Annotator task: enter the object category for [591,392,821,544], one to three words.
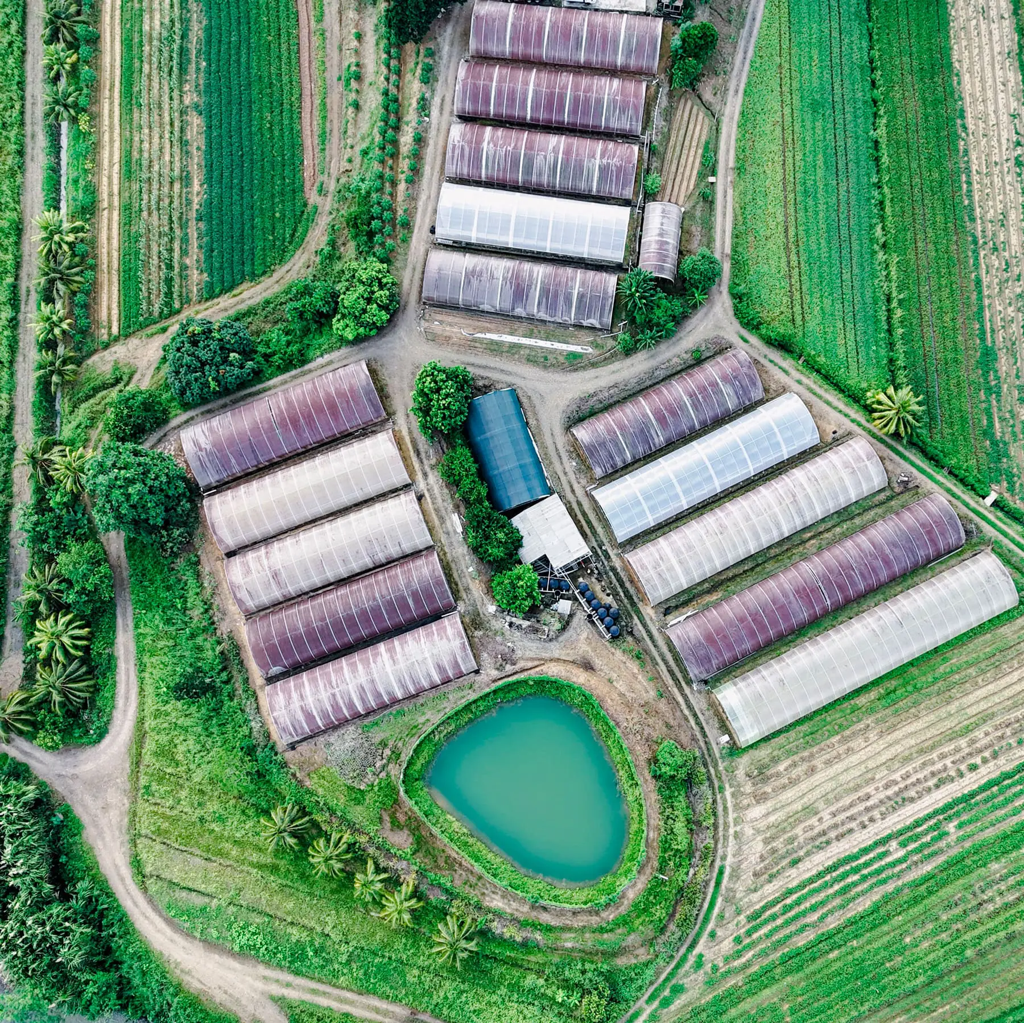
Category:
greenhouse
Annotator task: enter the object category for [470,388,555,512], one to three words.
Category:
building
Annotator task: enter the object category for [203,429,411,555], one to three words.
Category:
greenhouse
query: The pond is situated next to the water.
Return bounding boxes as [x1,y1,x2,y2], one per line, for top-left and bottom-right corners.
[426,692,631,887]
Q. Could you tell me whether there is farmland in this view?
Yes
